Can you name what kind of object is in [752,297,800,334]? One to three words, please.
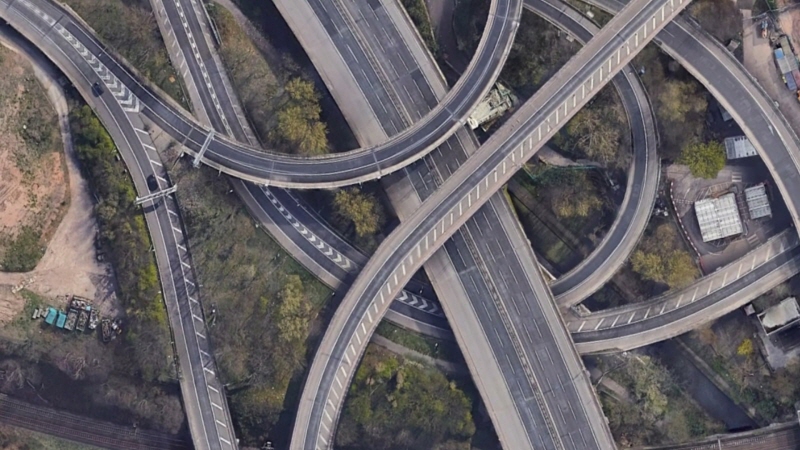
building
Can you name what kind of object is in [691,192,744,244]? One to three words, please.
building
